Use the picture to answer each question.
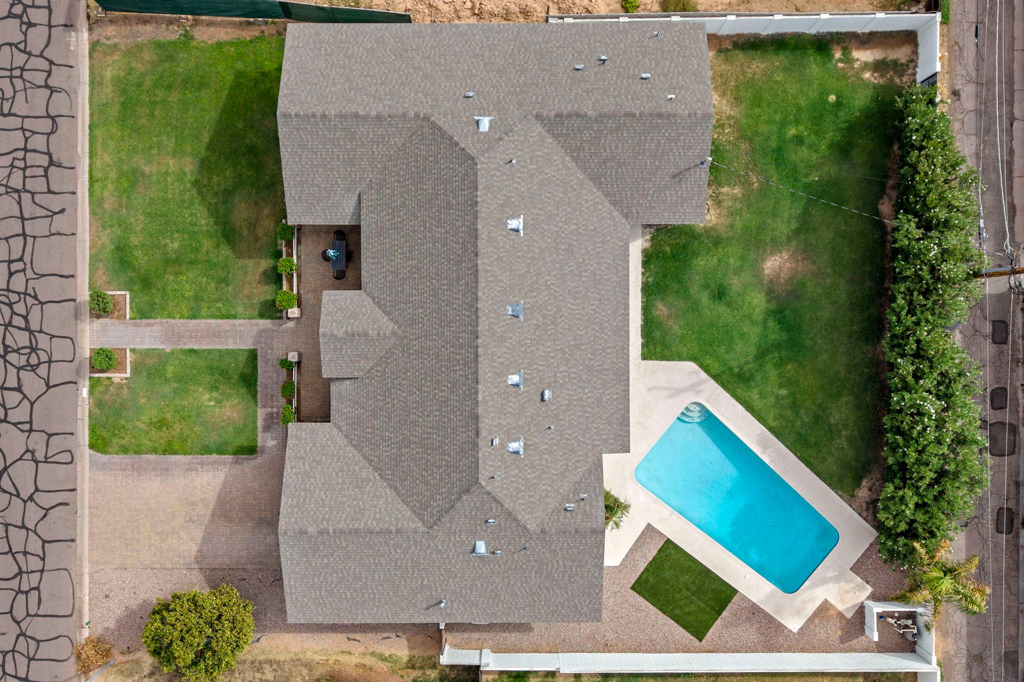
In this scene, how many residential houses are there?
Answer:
one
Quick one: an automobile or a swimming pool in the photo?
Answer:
swimming pool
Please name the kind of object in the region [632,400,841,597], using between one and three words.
swimming pool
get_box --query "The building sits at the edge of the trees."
[277,22,714,623]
